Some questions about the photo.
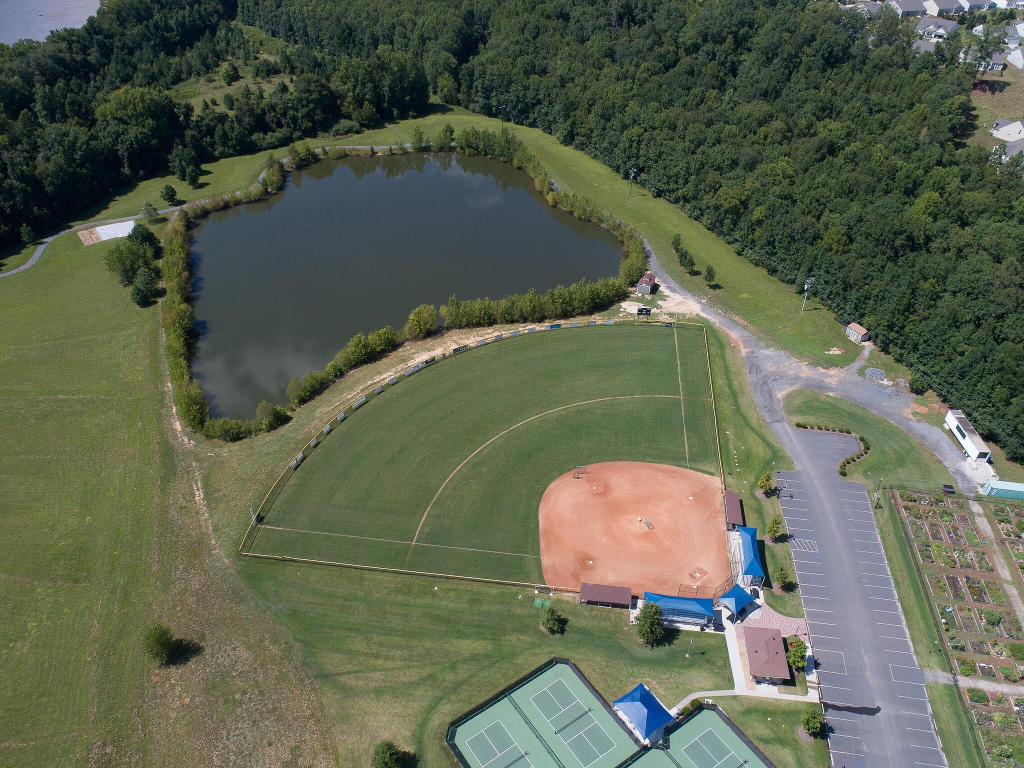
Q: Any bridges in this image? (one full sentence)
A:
No, I find no bridge anywhere in the image.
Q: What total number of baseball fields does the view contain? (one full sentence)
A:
I count 1 baseball field.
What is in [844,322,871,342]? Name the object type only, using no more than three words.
shed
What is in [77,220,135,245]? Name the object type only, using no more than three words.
sports court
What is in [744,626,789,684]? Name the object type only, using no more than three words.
building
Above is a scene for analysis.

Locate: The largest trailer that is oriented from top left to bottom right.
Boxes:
[944,410,991,462]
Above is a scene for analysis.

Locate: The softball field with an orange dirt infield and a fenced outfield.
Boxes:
[241,316,731,601]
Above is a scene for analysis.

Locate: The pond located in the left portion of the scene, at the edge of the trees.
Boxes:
[193,153,623,425]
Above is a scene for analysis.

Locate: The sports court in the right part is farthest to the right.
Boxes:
[639,710,770,768]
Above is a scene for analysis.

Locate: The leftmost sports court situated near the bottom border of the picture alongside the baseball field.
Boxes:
[454,663,641,768]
